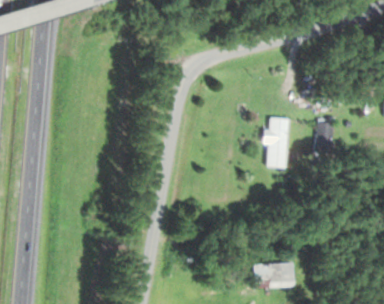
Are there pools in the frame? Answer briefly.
No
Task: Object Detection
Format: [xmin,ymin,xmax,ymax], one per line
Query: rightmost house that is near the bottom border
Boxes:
[252,262,296,294]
